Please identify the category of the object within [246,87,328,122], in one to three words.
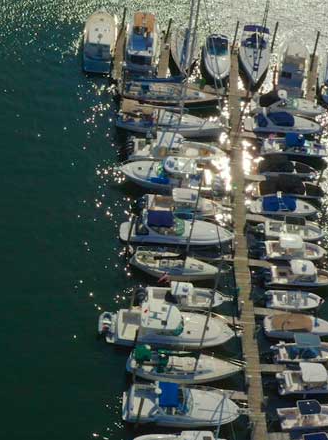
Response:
boat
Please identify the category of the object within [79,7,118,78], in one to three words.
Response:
boat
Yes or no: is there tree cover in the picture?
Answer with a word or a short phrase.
No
